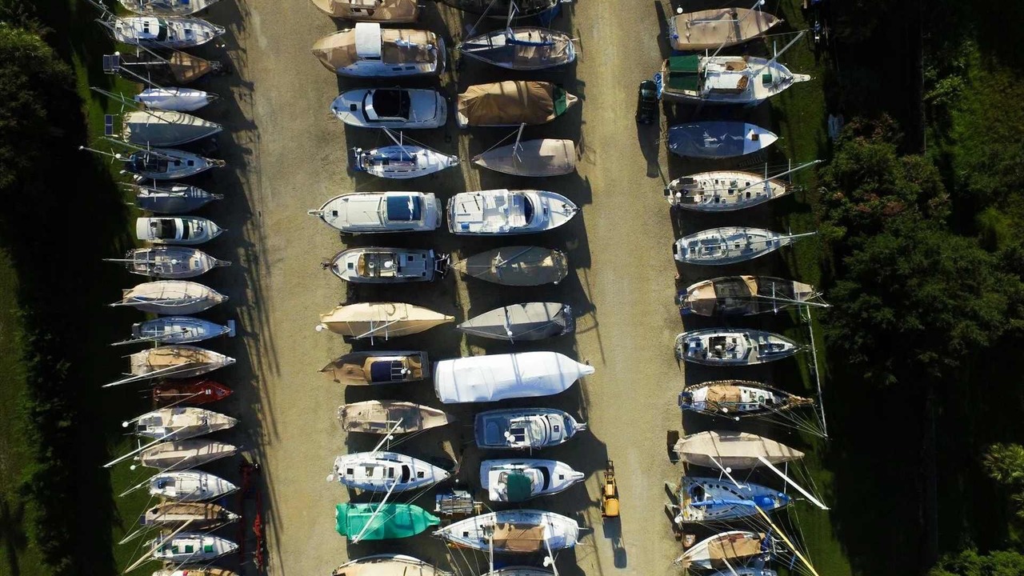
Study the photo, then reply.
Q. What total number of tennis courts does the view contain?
none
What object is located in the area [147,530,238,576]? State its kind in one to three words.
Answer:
boat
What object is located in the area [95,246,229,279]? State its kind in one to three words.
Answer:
boat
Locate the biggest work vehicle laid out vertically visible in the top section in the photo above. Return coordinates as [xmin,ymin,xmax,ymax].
[632,81,657,132]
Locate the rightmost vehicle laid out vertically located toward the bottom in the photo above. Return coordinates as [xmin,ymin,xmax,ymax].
[599,459,621,517]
